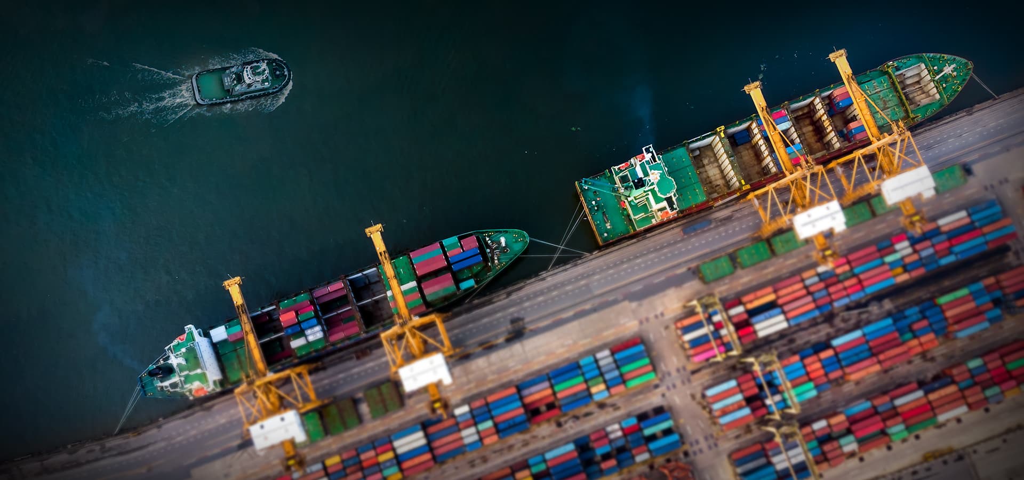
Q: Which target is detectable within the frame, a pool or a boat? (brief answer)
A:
boat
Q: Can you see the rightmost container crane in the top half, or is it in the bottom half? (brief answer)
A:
top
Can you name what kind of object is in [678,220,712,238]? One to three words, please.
vehicle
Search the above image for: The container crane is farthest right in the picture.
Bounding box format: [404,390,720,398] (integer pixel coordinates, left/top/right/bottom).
[824,47,941,232]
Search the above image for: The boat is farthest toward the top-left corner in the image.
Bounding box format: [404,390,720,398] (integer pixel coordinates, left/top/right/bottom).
[192,61,292,102]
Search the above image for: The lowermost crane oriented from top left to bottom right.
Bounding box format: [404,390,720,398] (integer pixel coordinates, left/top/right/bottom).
[757,412,822,480]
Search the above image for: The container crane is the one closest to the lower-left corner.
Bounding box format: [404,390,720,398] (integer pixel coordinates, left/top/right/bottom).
[226,276,334,467]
